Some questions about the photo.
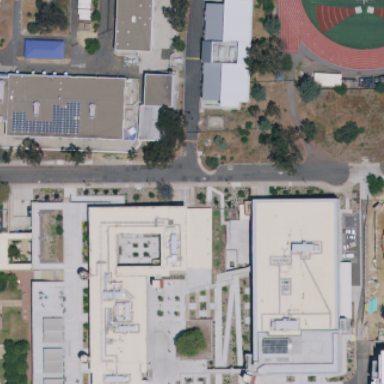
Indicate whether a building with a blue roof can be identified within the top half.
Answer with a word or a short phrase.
Yes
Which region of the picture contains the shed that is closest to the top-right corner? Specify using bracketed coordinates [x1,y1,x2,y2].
[313,74,342,88]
